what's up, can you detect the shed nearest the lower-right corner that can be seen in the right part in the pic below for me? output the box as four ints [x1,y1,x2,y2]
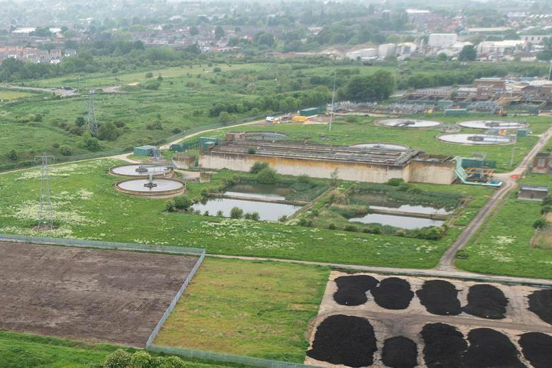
[518,185,549,203]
